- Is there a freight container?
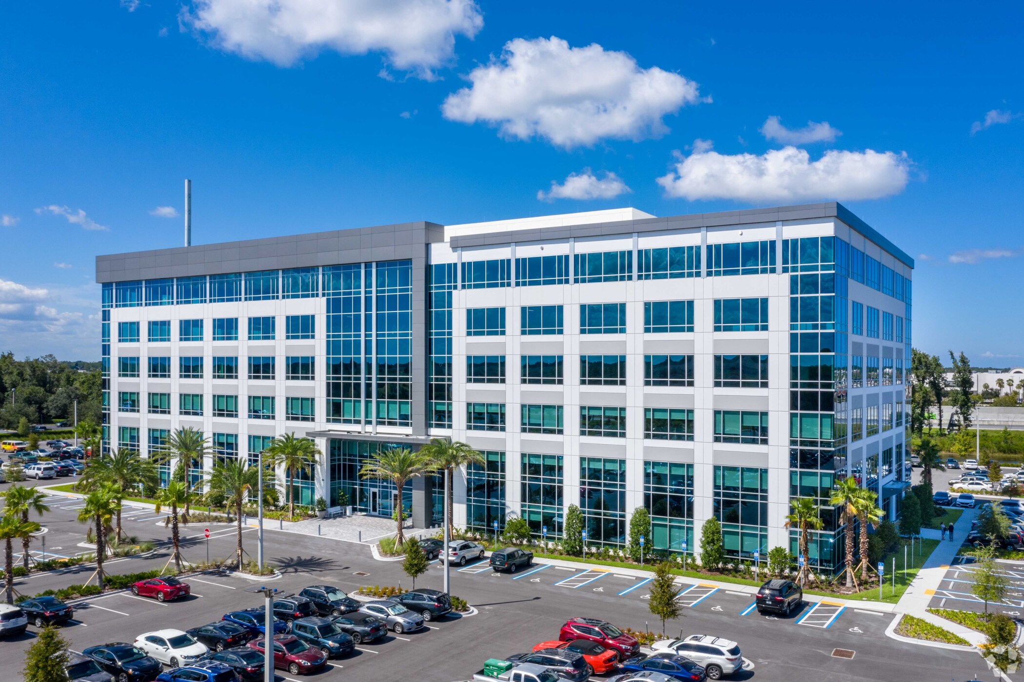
No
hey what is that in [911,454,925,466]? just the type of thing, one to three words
vehicle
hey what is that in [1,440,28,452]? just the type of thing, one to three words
vehicle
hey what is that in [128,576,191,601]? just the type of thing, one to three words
car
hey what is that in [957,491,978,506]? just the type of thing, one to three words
car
